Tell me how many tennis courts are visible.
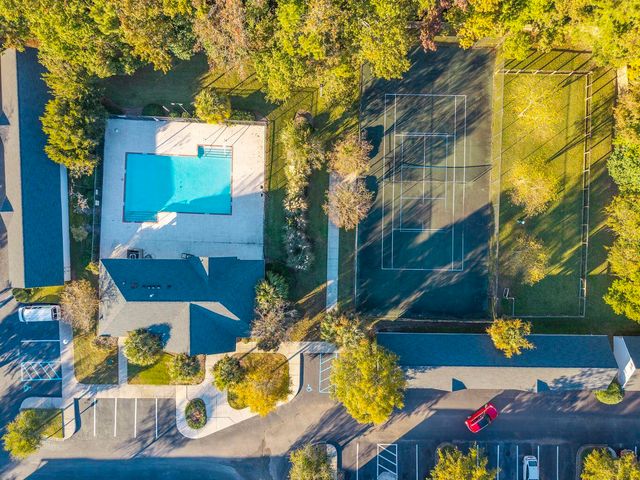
one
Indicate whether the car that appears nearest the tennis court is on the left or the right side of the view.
right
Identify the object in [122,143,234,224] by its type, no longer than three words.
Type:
swimming pool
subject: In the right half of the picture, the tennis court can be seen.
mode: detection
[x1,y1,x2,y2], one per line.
[355,49,494,321]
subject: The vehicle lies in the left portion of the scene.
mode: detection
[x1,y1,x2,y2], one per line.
[20,304,64,323]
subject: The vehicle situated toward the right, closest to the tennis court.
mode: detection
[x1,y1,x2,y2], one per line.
[464,403,496,432]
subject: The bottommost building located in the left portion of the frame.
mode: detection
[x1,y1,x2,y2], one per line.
[98,257,264,358]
